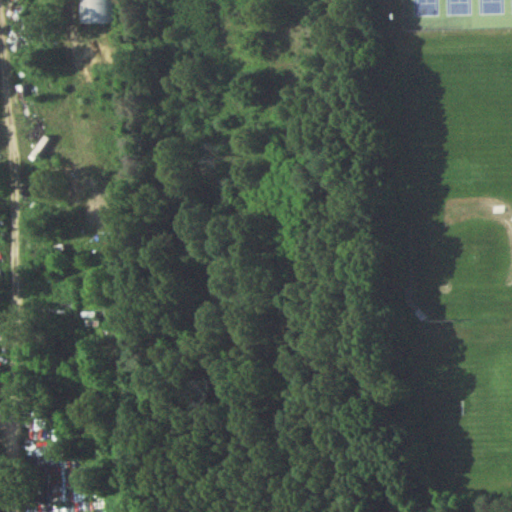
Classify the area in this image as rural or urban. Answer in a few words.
rural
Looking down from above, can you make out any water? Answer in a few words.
No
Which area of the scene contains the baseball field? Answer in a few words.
right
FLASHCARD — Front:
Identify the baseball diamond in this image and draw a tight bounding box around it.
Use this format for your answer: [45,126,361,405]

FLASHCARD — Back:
[436,196,512,293]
